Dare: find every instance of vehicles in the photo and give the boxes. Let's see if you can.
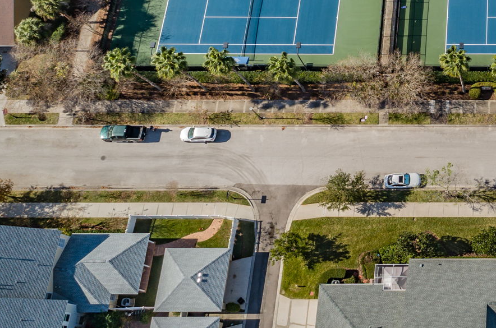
[180,126,217,144]
[98,125,147,143]
[384,172,423,190]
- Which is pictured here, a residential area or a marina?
residential area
